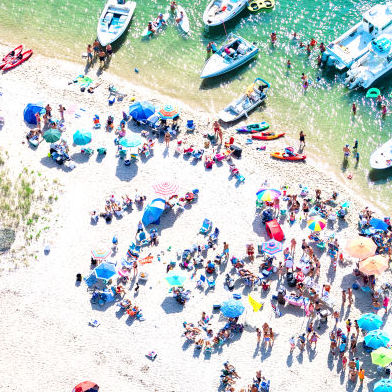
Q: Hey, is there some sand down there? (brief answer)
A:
Yes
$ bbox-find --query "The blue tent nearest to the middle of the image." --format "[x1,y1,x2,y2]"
[140,205,173,233]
